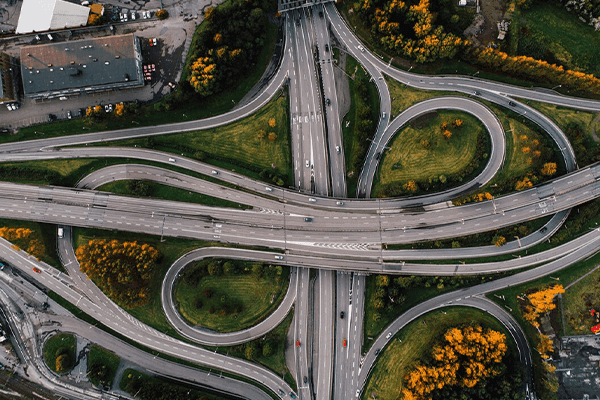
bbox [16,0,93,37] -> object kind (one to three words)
building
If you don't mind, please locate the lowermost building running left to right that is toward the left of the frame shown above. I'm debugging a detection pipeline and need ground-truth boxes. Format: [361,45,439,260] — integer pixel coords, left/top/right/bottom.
[19,34,146,101]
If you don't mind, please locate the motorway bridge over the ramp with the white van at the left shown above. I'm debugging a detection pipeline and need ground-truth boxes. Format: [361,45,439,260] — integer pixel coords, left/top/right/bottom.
[39,186,101,227]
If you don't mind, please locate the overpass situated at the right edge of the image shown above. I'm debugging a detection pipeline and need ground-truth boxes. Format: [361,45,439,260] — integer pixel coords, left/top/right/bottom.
[543,169,595,212]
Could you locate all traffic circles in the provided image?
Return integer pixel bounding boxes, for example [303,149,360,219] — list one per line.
[36,324,76,384]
